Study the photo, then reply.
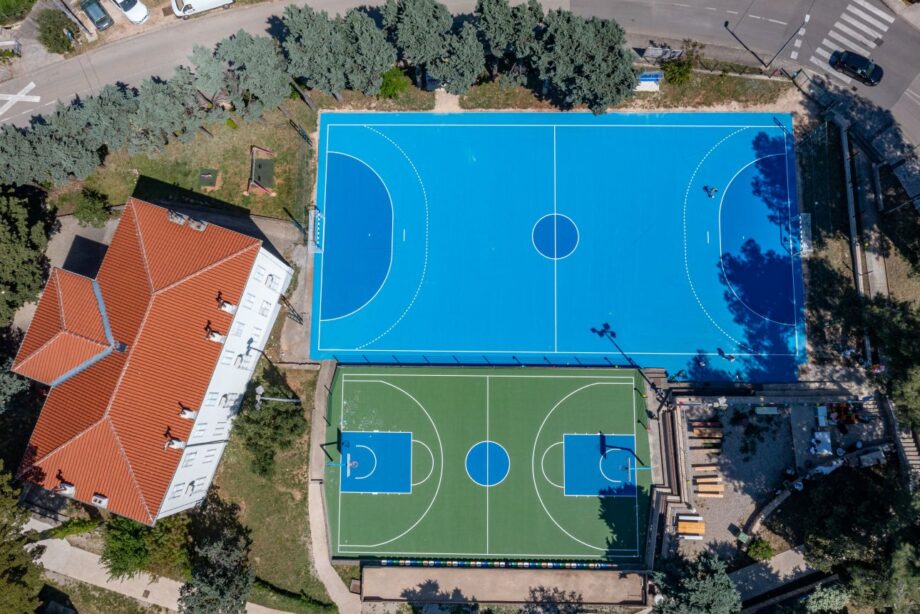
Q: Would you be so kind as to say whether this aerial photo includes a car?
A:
Yes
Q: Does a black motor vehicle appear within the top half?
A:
Yes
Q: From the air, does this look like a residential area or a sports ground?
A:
sports ground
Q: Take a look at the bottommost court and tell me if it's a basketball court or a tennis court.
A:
basketball court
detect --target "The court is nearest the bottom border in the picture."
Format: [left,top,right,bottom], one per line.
[328,368,651,566]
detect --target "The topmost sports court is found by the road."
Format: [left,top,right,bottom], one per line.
[310,111,807,384]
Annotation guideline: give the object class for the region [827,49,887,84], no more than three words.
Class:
car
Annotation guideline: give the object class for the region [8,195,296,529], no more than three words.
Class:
building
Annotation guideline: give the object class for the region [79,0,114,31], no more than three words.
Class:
car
